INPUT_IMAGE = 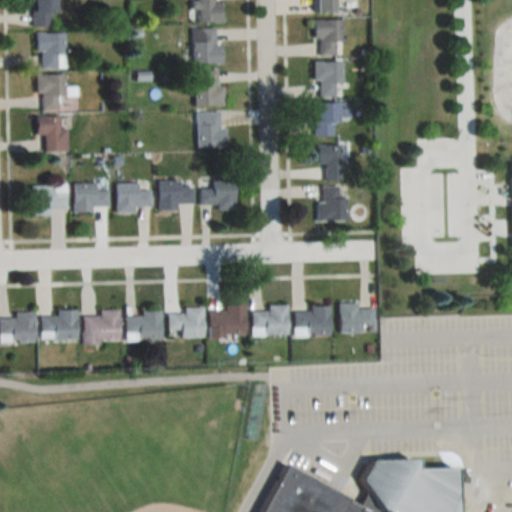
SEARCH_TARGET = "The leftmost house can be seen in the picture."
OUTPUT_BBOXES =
[0,312,38,346]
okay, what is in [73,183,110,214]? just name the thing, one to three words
house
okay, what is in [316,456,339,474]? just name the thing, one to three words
vehicle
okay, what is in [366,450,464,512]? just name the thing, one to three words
building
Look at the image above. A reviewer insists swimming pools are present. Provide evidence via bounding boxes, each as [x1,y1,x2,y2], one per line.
[148,88,161,101]
[226,343,240,356]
